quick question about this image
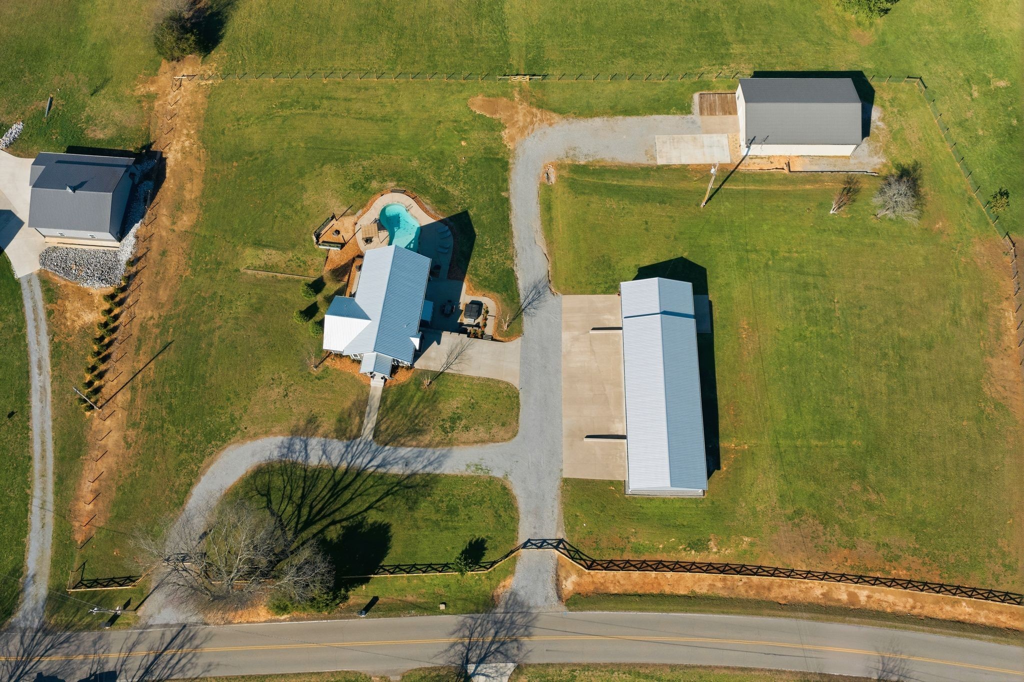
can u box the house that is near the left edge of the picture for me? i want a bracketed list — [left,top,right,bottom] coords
[28,152,138,245]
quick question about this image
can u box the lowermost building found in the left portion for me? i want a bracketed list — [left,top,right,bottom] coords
[323,244,434,384]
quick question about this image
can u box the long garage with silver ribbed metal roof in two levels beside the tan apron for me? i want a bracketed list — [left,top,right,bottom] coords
[621,277,716,497]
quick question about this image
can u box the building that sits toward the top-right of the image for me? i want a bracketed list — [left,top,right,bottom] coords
[736,77,862,156]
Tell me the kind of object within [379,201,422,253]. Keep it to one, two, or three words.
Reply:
swimming pool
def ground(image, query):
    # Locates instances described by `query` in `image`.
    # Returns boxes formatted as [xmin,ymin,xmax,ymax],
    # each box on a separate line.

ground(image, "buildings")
[736,77,862,156]
[28,152,138,245]
[621,277,716,497]
[323,244,434,384]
